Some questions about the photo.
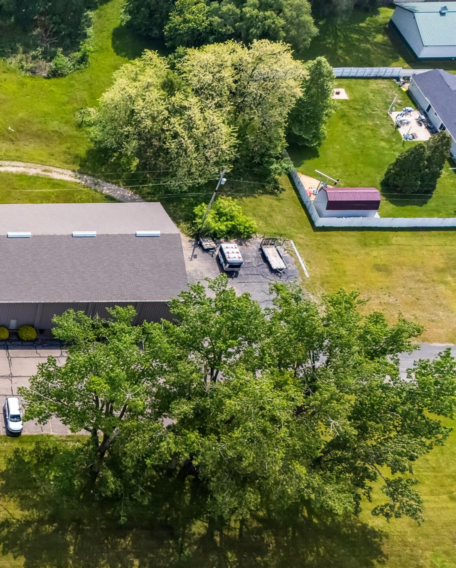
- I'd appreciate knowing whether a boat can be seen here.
No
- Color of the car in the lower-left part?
white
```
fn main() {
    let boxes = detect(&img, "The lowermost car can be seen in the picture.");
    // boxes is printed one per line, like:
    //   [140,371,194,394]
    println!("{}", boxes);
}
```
[1,396,24,434]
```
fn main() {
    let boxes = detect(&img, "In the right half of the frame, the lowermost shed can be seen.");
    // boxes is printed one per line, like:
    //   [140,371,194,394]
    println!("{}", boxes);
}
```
[312,185,379,217]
